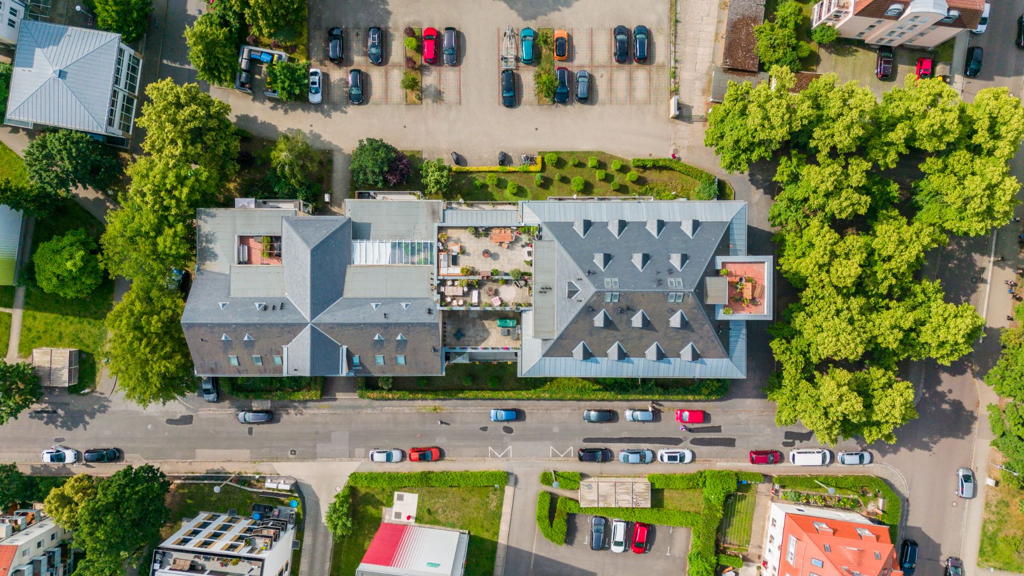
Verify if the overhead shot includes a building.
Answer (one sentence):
Yes, the image includes a building.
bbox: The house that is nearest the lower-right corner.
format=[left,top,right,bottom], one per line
[764,504,891,576]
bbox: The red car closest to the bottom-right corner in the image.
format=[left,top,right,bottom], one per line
[748,449,780,466]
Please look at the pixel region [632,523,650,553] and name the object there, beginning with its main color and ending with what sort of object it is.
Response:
red car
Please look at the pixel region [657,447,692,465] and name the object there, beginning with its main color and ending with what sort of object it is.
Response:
white car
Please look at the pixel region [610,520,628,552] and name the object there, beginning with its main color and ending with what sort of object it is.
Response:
white car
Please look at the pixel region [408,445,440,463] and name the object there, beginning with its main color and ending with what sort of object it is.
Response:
red car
